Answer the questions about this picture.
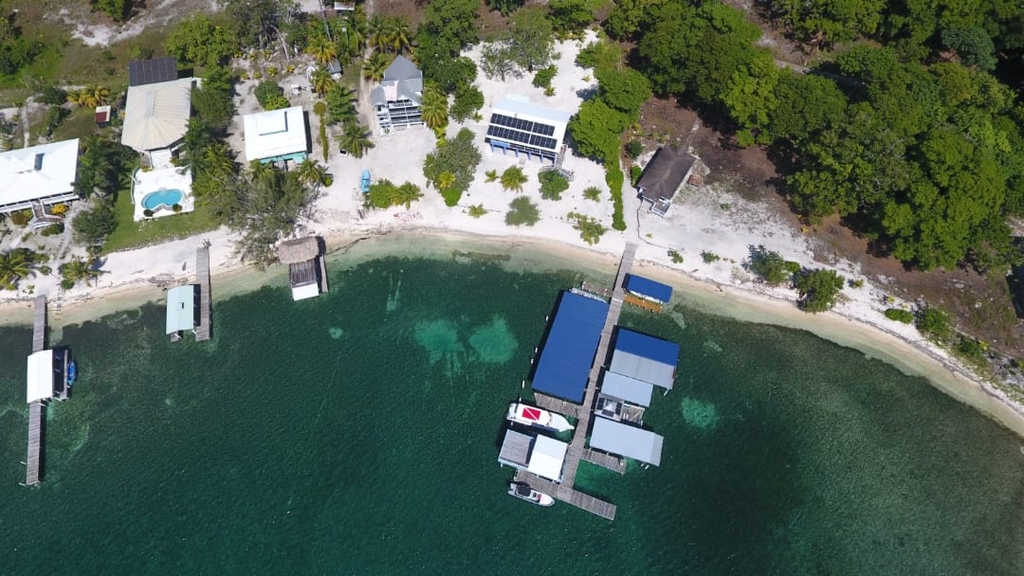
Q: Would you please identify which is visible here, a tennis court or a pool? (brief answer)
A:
pool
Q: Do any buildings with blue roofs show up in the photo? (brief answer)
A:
Yes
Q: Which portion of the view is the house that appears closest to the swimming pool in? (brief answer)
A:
top left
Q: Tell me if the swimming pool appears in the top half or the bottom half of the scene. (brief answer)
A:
top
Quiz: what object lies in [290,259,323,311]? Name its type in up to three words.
building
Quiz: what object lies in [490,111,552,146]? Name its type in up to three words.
solar array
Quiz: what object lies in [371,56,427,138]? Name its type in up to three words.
house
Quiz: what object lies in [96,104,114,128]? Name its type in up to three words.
shed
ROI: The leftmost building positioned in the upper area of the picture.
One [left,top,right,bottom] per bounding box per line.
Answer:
[0,139,86,235]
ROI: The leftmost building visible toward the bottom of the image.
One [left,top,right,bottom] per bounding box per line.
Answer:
[27,350,77,413]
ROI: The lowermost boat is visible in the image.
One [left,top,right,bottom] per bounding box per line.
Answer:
[506,482,554,504]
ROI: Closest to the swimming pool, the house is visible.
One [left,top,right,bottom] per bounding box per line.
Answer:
[122,57,204,170]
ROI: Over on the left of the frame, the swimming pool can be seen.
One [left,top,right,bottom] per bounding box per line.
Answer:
[129,165,197,224]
